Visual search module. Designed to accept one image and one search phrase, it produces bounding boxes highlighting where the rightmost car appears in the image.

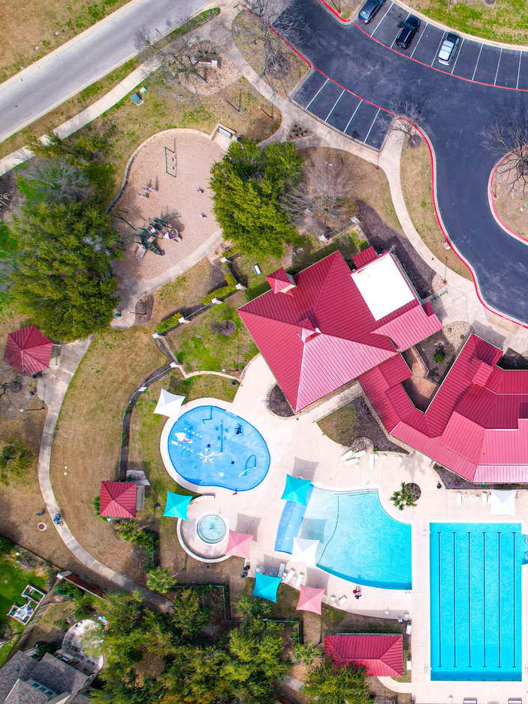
[439,33,459,69]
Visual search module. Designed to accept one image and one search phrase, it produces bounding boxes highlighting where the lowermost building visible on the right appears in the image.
[324,635,404,677]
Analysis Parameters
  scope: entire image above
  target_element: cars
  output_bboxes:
[357,0,385,26]
[394,14,420,49]
[439,33,459,69]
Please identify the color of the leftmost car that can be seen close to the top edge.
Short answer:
blue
